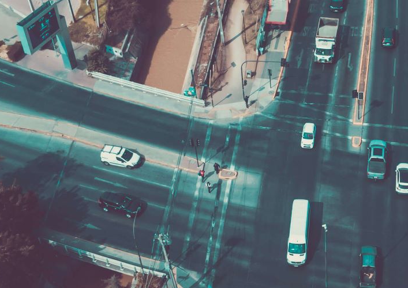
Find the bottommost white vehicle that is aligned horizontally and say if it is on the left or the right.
left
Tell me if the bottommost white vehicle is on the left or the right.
right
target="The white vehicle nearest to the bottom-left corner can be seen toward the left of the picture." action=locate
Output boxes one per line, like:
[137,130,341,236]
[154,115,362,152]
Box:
[99,143,141,168]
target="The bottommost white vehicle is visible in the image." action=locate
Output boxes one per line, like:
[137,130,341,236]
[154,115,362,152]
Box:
[285,199,310,264]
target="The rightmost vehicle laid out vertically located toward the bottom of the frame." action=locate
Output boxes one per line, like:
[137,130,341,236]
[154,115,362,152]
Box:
[395,163,408,196]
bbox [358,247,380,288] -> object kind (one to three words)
truck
